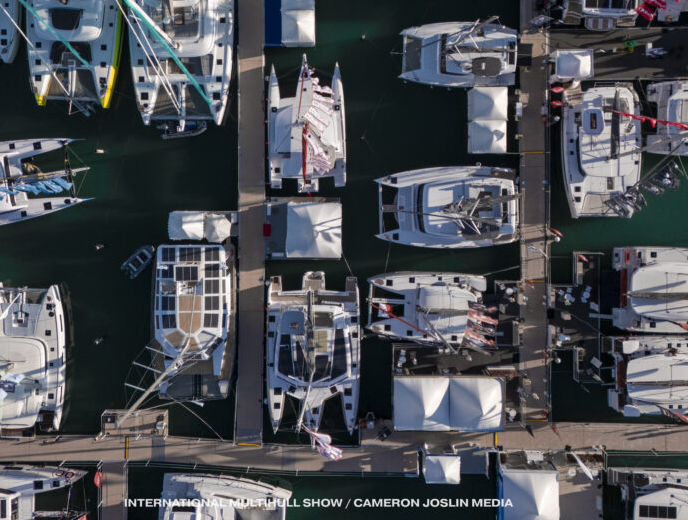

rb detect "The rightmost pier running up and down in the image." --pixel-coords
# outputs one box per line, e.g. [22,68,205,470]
[549,252,607,383]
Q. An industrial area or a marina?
marina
